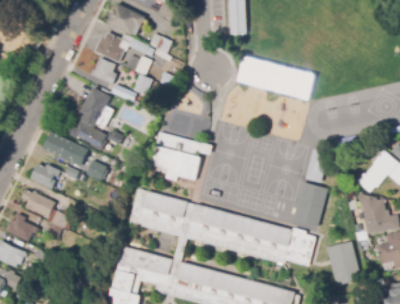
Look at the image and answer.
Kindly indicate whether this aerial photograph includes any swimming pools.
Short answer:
Yes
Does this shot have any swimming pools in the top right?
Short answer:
No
